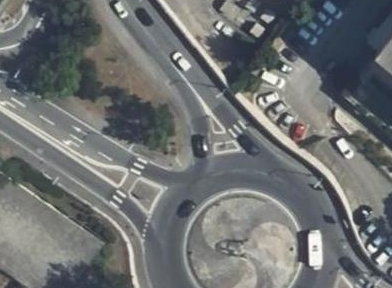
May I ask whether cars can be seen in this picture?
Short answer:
Yes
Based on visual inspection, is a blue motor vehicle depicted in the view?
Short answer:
Yes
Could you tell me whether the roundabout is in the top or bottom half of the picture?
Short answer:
bottom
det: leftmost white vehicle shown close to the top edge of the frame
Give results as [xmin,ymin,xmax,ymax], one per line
[112,0,128,19]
